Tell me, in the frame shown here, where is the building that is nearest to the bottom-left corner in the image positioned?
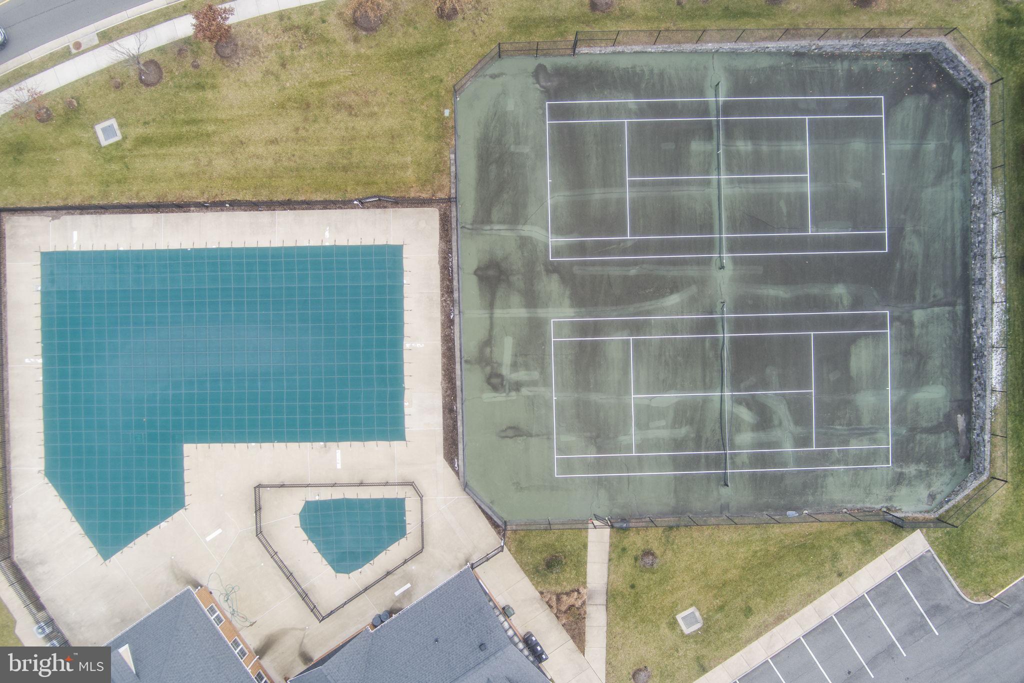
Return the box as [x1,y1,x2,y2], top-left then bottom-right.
[48,584,273,683]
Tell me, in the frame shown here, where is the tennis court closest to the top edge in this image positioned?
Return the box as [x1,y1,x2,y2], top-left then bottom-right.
[455,52,971,289]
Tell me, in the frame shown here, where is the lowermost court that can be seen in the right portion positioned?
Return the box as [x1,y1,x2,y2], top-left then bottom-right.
[460,276,972,520]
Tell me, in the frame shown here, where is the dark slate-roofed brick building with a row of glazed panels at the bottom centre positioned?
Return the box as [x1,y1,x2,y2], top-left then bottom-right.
[285,564,552,683]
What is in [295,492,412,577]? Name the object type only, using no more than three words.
swimming pool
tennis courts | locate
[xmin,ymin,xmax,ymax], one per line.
[455,52,971,289]
[460,276,972,520]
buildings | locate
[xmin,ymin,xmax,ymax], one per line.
[285,564,552,683]
[48,584,273,683]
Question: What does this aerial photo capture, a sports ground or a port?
sports ground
